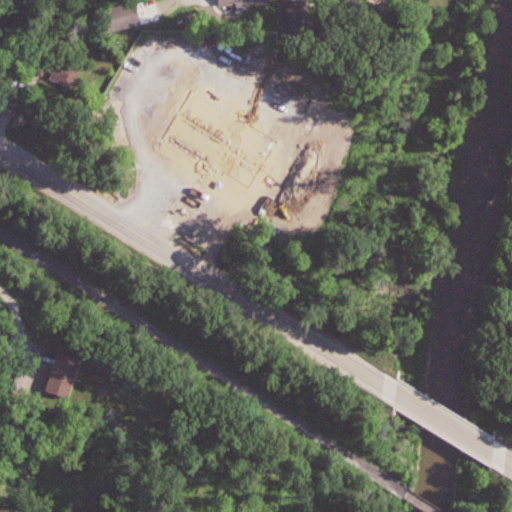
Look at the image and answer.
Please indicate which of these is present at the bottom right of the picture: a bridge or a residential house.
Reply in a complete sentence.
The feature located at the bottom right of the picture is a bridge.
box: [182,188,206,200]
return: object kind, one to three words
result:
vehicle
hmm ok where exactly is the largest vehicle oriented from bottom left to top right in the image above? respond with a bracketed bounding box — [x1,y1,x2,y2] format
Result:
[259,197,274,214]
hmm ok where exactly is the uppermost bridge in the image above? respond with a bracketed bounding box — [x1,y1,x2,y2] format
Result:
[380,368,505,478]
